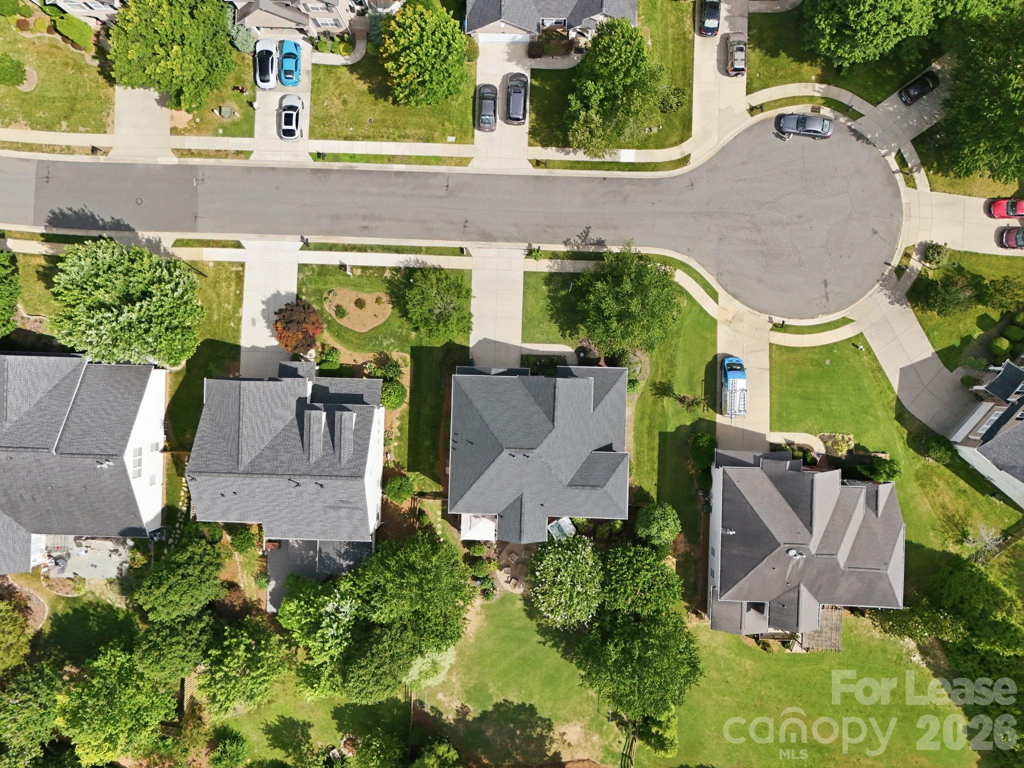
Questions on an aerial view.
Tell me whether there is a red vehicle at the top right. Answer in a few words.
Yes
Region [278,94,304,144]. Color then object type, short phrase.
white car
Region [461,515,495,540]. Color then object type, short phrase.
white gazebo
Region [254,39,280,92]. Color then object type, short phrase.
white car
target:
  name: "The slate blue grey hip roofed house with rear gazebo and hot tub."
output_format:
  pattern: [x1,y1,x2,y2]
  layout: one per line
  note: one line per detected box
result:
[448,366,630,545]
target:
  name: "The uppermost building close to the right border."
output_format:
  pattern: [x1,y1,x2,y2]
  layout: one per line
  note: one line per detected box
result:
[951,344,1024,508]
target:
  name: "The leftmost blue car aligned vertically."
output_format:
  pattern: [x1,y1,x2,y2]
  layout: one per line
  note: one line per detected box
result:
[278,40,302,89]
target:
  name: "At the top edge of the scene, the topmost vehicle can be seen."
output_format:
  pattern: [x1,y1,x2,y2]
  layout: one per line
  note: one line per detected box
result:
[698,0,722,40]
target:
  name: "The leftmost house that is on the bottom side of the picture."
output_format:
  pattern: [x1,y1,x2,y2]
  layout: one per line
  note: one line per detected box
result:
[0,351,162,574]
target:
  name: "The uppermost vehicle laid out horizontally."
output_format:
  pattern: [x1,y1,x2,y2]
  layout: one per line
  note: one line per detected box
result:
[778,113,832,141]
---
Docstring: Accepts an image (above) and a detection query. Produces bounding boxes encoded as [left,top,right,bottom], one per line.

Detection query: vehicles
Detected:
[720,356,747,415]
[893,72,939,109]
[997,227,1024,250]
[698,0,722,40]
[475,84,497,134]
[725,31,748,76]
[278,94,304,144]
[986,197,1024,220]
[254,39,280,92]
[778,113,832,141]
[506,73,529,127]
[278,40,302,89]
